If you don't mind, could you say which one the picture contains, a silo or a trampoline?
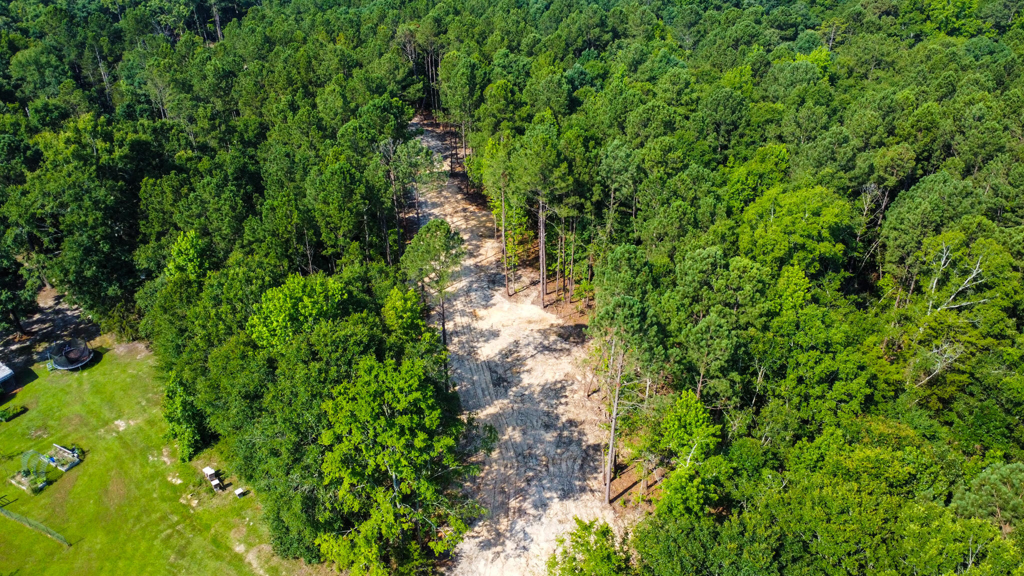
trampoline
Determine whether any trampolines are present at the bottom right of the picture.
No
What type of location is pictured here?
forest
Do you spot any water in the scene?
No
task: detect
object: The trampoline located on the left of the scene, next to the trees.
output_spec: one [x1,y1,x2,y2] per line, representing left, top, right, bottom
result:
[38,330,95,377]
